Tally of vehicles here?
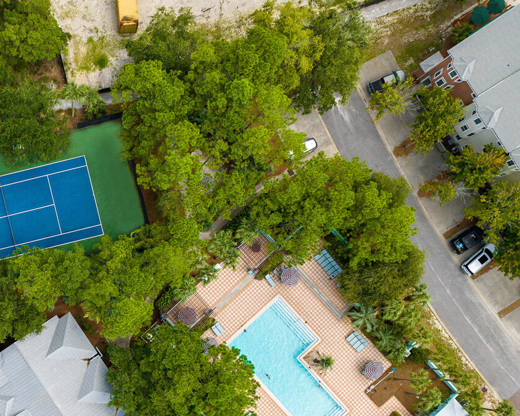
4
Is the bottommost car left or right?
right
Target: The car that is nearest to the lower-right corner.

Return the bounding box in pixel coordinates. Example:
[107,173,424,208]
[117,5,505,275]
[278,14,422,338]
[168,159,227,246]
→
[458,246,495,274]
